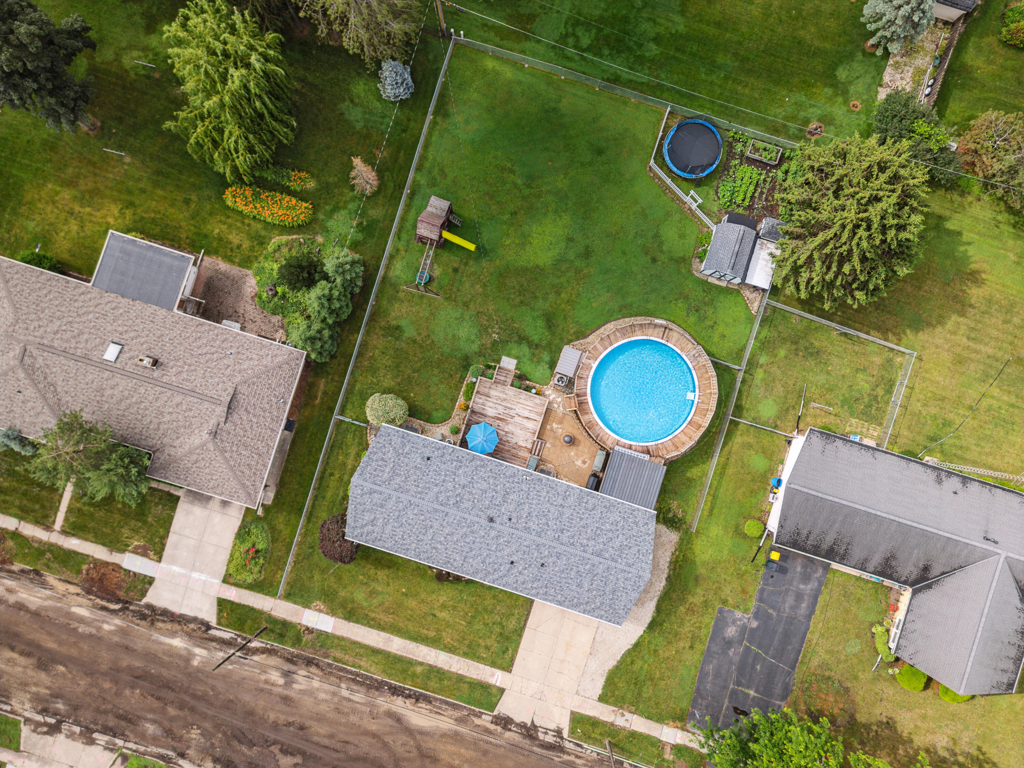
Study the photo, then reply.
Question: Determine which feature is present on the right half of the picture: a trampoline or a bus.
trampoline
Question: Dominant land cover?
grass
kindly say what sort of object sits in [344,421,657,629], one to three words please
house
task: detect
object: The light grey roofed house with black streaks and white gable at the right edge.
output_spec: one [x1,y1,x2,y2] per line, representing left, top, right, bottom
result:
[763,425,1024,696]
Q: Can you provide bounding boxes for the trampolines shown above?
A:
[662,113,727,186]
